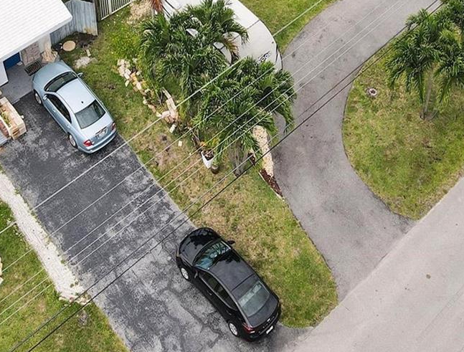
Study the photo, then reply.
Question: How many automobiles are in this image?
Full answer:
My tally gives 2 automobiles in this view.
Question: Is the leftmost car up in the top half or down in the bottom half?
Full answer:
It is in the top half that the leftmost car appears.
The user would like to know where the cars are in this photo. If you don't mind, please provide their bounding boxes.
[31,59,119,156]
[178,225,286,348]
